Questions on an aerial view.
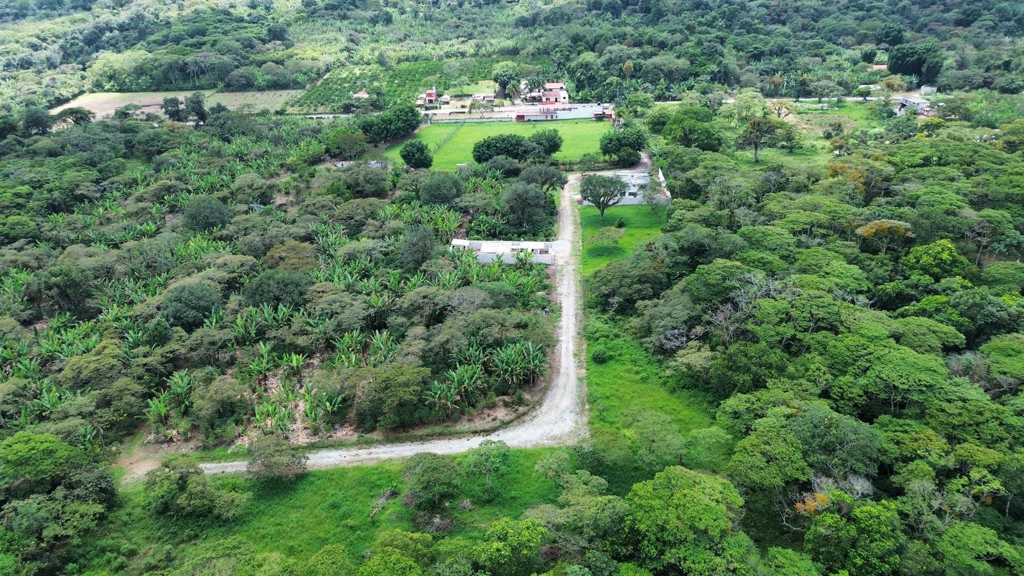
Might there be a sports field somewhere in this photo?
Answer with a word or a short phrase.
Yes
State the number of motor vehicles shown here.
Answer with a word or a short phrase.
0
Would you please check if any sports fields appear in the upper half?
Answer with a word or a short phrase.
Yes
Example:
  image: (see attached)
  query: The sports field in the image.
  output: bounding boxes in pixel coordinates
[370,118,621,176]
